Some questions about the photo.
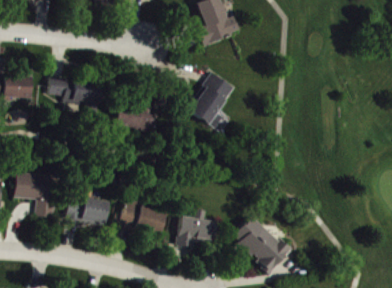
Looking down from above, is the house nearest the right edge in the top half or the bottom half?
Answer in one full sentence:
Seen from above, the house nearest the right edge lies in the bottom half of the view.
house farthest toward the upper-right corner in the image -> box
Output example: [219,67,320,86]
[198,0,242,48]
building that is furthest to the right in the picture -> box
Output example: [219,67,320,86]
[233,218,295,275]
